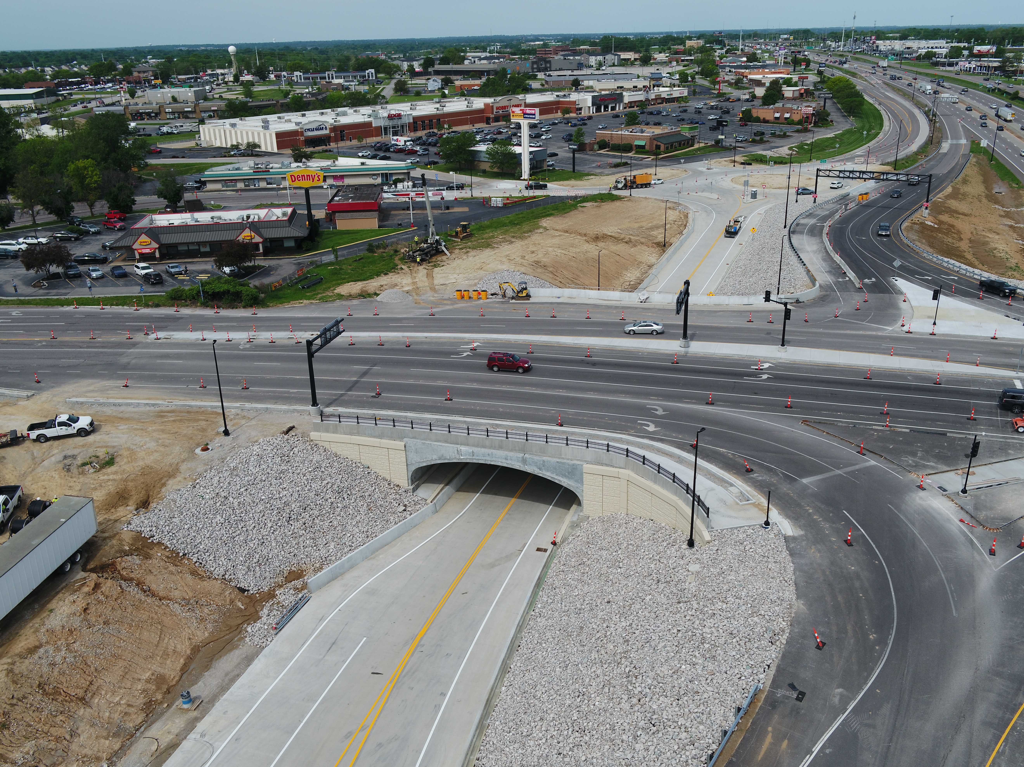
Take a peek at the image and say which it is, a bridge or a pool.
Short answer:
bridge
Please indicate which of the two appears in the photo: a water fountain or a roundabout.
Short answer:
roundabout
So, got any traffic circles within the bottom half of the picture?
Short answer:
No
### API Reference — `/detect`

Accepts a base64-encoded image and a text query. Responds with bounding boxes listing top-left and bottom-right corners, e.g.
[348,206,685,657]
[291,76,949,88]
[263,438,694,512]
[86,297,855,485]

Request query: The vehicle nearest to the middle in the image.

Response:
[485,350,533,373]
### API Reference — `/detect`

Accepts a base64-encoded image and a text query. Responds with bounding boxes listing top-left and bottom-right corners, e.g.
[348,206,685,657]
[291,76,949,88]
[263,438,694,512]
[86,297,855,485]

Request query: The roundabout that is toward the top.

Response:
[387,157,865,210]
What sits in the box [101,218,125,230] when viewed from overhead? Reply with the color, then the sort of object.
red vehicle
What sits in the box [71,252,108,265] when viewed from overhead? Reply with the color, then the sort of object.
black vehicle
